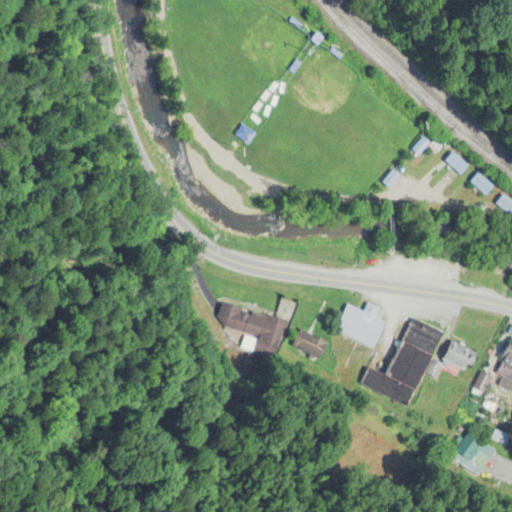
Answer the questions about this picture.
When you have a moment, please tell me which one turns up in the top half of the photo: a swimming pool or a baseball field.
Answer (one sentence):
The feature located in the top half of the photo is a baseball field.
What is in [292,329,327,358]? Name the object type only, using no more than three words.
house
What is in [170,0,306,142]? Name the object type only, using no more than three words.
baseball field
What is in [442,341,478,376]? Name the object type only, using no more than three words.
house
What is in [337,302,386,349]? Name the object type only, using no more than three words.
building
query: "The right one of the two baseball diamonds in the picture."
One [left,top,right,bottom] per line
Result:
[252,56,422,194]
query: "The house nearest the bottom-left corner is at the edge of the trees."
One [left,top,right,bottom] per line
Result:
[220,304,288,356]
